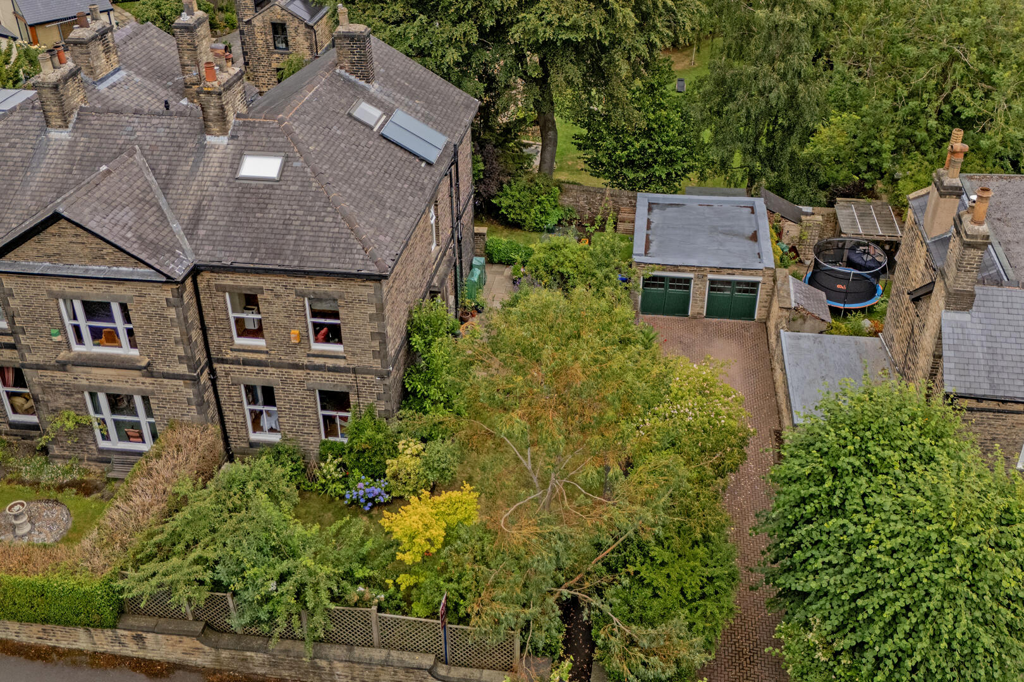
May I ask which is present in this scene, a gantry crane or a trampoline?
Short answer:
trampoline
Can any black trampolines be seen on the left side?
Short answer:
No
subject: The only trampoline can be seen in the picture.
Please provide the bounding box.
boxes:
[808,239,886,324]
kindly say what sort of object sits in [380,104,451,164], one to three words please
solar panel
